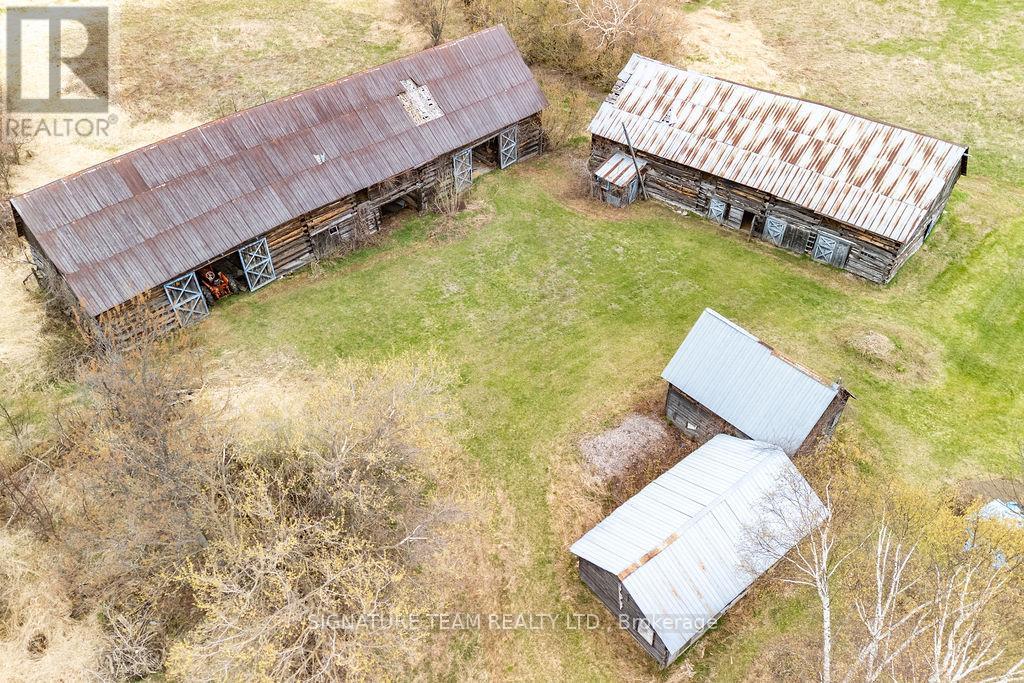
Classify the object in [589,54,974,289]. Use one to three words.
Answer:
barn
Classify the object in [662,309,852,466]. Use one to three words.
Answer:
shed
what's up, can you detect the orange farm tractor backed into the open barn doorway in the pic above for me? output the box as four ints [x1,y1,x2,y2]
[196,268,243,305]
